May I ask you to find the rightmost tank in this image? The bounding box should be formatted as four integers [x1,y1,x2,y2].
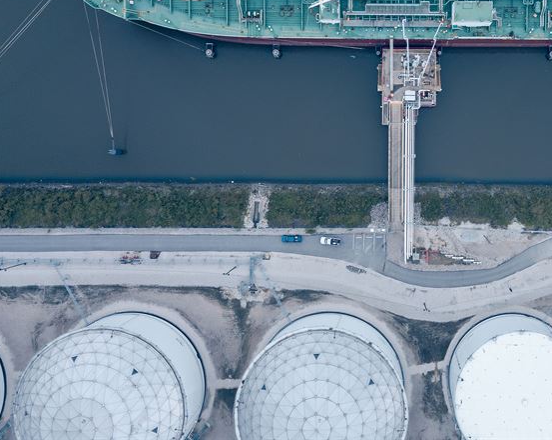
[448,314,552,440]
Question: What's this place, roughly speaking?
industrial area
